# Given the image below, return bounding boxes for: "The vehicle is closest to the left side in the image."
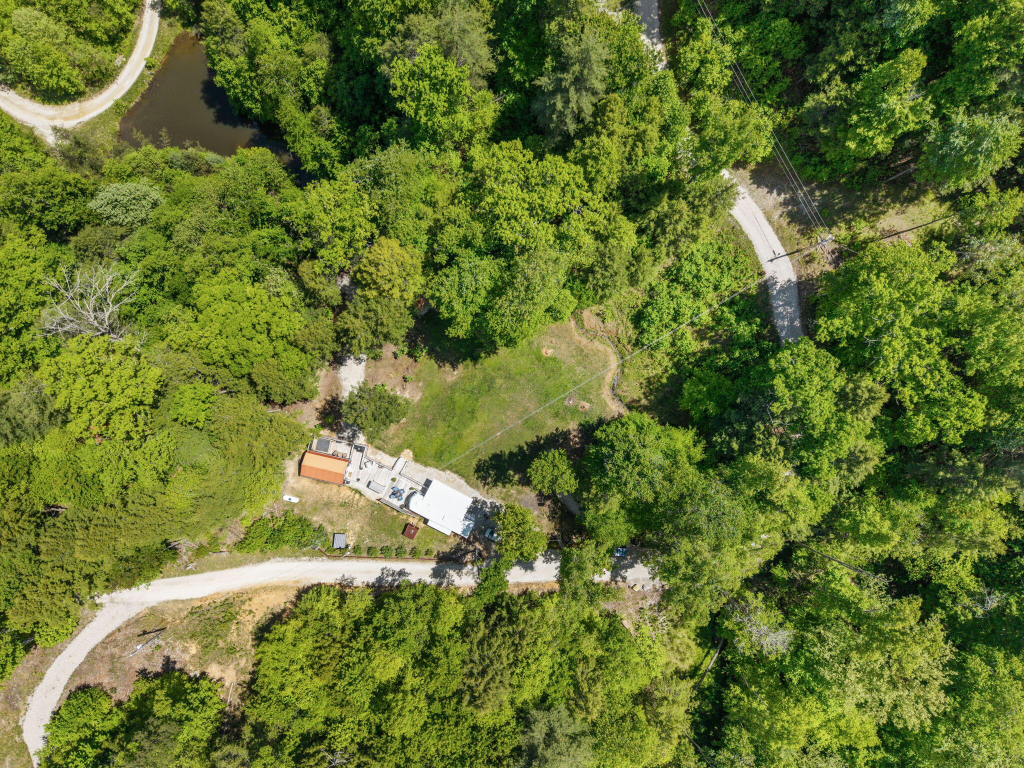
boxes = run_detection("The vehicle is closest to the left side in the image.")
[408,478,483,538]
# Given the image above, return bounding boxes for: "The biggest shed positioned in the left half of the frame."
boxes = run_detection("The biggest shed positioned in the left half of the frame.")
[300,450,350,485]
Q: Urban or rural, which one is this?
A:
rural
